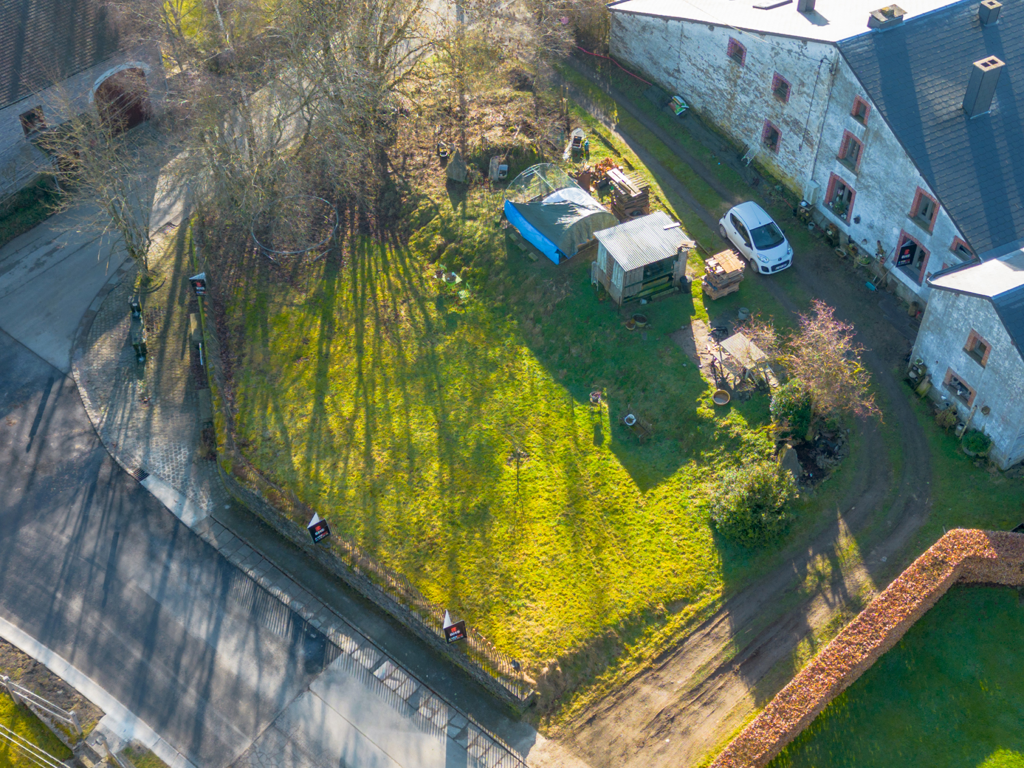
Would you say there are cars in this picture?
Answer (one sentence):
Yes, the frame does contain a car.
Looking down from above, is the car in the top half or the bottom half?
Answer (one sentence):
Seen from above, the car lies in the top half of the view.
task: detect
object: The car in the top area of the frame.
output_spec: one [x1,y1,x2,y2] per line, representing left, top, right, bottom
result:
[718,200,799,274]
